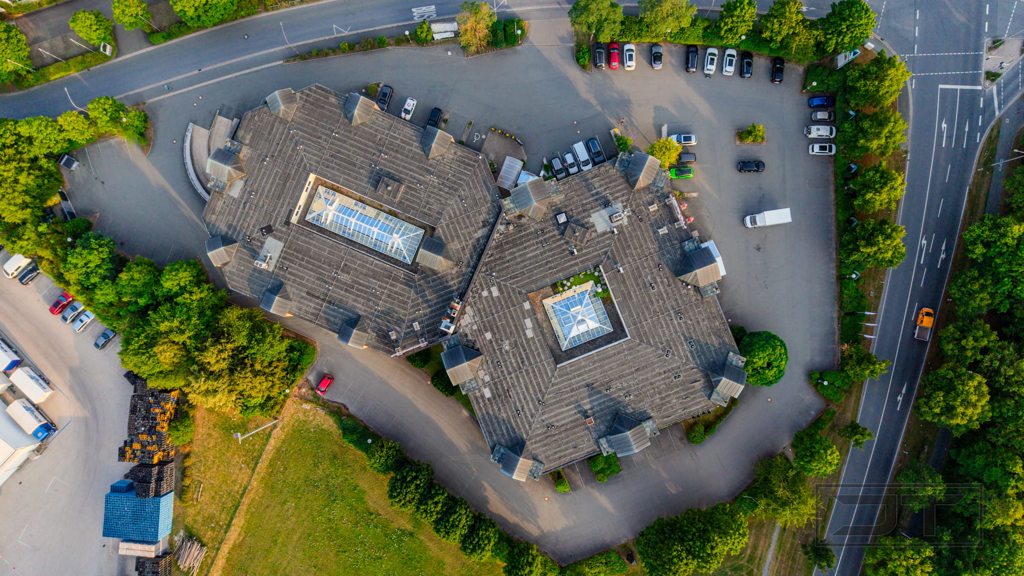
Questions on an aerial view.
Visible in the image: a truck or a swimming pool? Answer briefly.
truck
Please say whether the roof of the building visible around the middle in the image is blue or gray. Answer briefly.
gray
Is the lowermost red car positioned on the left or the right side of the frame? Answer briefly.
left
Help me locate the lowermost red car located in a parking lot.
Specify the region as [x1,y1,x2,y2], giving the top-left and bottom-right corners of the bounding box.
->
[315,372,335,397]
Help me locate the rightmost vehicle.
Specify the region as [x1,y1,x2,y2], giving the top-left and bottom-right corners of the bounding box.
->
[913,306,937,342]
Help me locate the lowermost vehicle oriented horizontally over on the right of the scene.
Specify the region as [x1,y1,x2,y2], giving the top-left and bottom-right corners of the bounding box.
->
[742,208,794,227]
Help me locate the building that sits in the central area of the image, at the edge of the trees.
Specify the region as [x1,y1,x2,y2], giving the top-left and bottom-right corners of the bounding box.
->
[201,82,747,482]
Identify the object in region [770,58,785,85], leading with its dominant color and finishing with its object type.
black car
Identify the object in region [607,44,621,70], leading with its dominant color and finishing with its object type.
red car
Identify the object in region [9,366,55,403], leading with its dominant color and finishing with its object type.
white truck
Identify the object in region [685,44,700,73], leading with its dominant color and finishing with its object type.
black car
